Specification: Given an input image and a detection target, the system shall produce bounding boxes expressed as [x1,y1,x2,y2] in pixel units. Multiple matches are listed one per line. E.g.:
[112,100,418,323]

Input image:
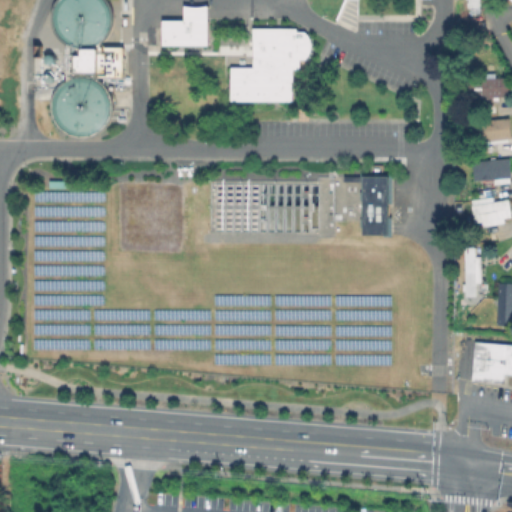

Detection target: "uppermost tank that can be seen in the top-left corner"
[50,0,114,48]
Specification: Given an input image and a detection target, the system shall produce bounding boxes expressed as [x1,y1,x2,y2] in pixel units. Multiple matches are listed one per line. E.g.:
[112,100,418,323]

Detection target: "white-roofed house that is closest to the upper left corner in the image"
[72,48,96,75]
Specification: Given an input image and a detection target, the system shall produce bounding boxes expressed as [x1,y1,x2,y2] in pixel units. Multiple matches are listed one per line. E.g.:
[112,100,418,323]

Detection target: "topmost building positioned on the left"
[162,5,208,47]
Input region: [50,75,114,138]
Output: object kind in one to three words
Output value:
storage tank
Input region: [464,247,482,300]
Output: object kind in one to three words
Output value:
house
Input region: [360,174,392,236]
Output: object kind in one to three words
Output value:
building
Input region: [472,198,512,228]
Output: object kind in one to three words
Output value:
house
